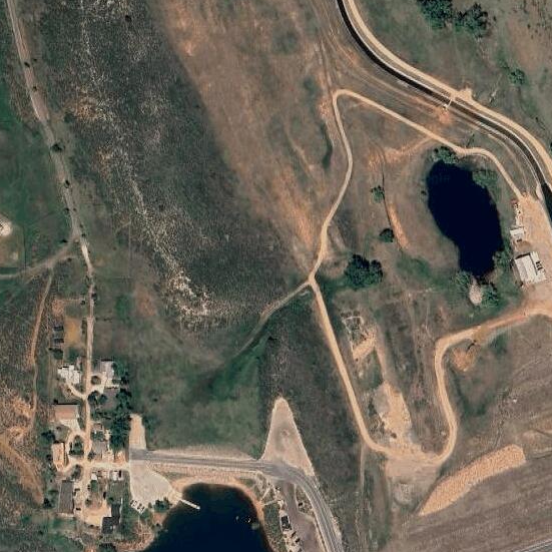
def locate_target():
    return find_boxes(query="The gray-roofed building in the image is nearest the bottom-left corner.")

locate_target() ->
[58,480,74,513]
